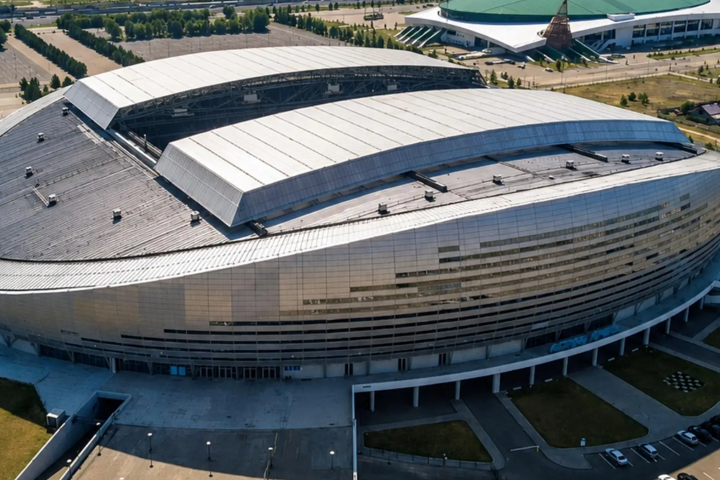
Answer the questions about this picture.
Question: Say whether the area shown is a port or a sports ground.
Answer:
sports ground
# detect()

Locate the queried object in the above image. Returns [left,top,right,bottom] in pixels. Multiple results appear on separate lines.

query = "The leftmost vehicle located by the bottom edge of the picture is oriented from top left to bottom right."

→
[606,448,629,465]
